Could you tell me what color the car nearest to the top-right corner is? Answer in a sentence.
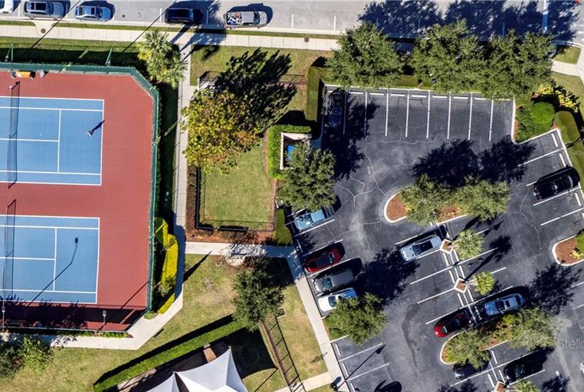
In this view, the car nearest to the top-right corner is black.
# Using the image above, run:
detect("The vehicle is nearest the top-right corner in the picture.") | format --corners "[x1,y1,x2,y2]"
[531,170,577,198]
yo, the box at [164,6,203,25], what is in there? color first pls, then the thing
black car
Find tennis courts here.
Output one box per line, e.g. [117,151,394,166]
[0,215,101,304]
[0,96,104,185]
